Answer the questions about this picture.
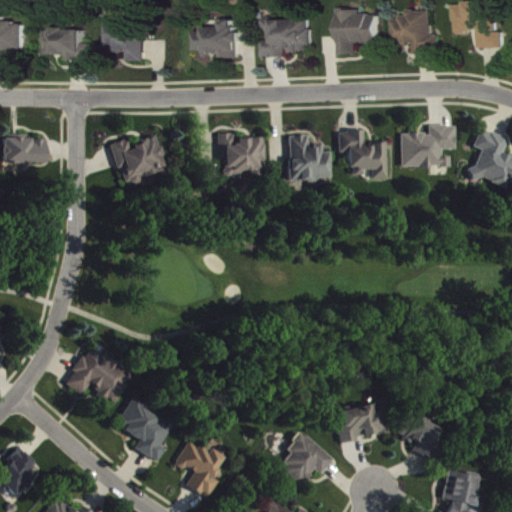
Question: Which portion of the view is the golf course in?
center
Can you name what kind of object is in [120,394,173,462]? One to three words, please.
house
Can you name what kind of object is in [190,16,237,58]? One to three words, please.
house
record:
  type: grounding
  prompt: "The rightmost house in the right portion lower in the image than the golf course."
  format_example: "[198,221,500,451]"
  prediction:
[444,469,486,512]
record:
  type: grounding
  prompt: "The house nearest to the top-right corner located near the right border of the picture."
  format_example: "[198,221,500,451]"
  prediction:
[445,1,502,48]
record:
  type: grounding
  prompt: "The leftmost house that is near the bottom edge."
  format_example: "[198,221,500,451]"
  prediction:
[0,442,44,503]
